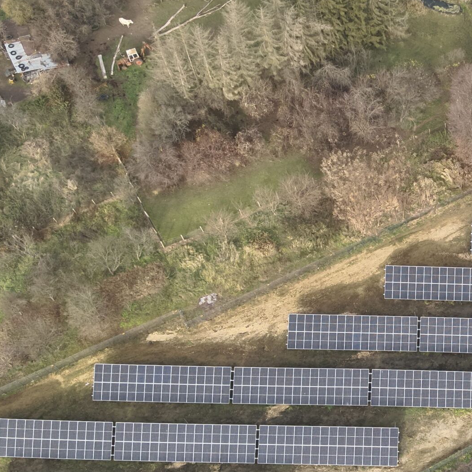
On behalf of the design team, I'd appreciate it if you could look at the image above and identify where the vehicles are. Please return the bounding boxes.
[110,47,150,71]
